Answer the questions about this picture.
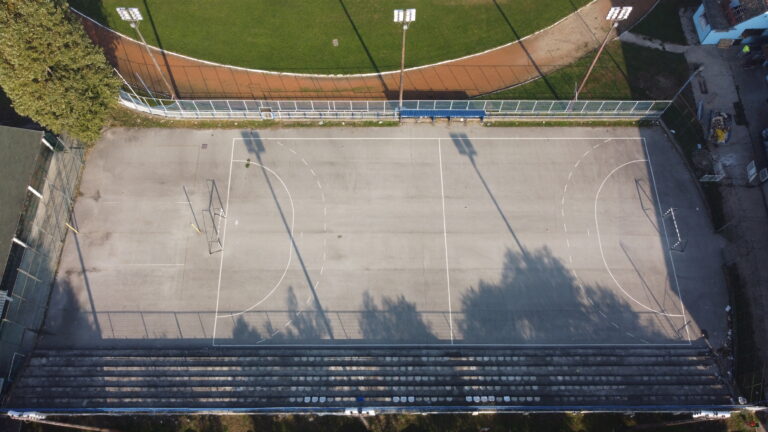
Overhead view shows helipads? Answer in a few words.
No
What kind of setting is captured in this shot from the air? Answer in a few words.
sports ground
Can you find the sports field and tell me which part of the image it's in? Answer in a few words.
top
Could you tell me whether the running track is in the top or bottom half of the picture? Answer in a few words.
top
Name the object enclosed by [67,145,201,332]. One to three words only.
sports court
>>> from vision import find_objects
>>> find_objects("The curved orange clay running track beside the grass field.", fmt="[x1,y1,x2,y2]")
[1,0,662,110]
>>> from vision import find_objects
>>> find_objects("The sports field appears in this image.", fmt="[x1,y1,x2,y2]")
[67,0,597,73]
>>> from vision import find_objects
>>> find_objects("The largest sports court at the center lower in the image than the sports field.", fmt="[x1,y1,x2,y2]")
[211,138,691,346]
